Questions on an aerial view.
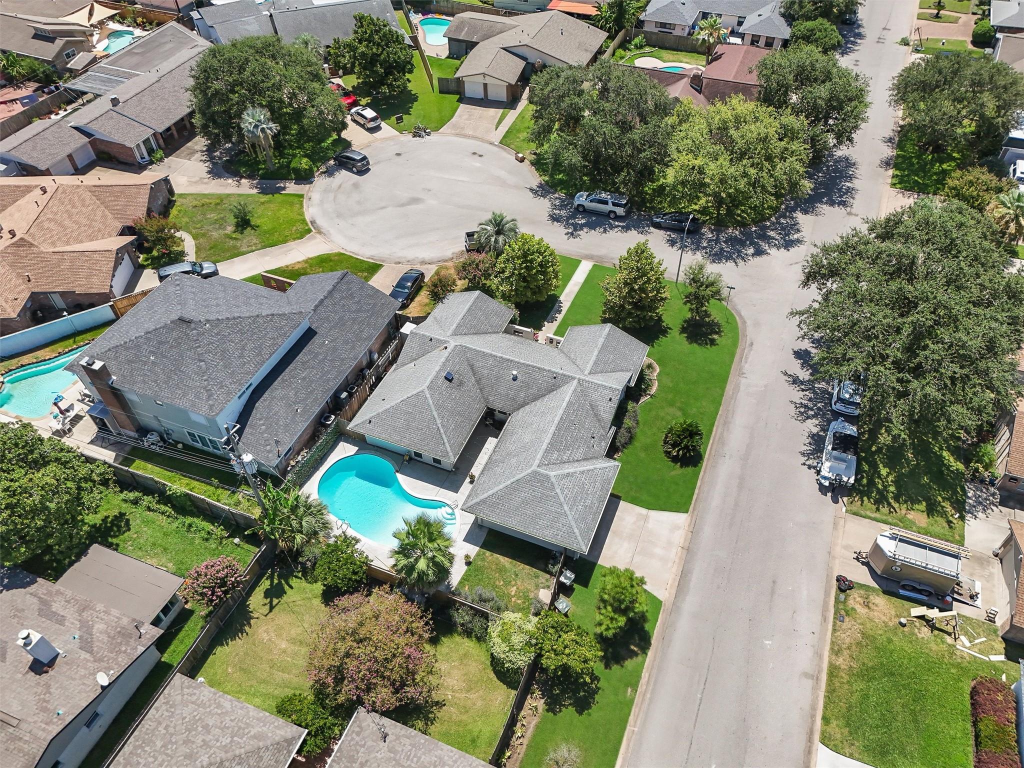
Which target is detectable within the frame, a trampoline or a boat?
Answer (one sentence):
It is a boat that can be seen here.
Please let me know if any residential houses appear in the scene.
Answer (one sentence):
Yes, you can see a residential house in this photo.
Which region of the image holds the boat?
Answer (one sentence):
Look in the right portion of the view to spot the boat.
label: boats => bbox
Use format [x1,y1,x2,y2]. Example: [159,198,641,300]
[817,418,862,490]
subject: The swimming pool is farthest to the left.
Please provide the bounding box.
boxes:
[0,343,94,420]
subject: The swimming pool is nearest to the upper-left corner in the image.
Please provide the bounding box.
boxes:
[101,30,140,55]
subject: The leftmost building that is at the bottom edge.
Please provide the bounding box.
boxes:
[0,543,187,768]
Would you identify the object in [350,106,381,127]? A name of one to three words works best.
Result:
car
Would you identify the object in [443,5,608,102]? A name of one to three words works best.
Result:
house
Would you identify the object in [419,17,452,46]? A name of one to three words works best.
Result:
swimming pool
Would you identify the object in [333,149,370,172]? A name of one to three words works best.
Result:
car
